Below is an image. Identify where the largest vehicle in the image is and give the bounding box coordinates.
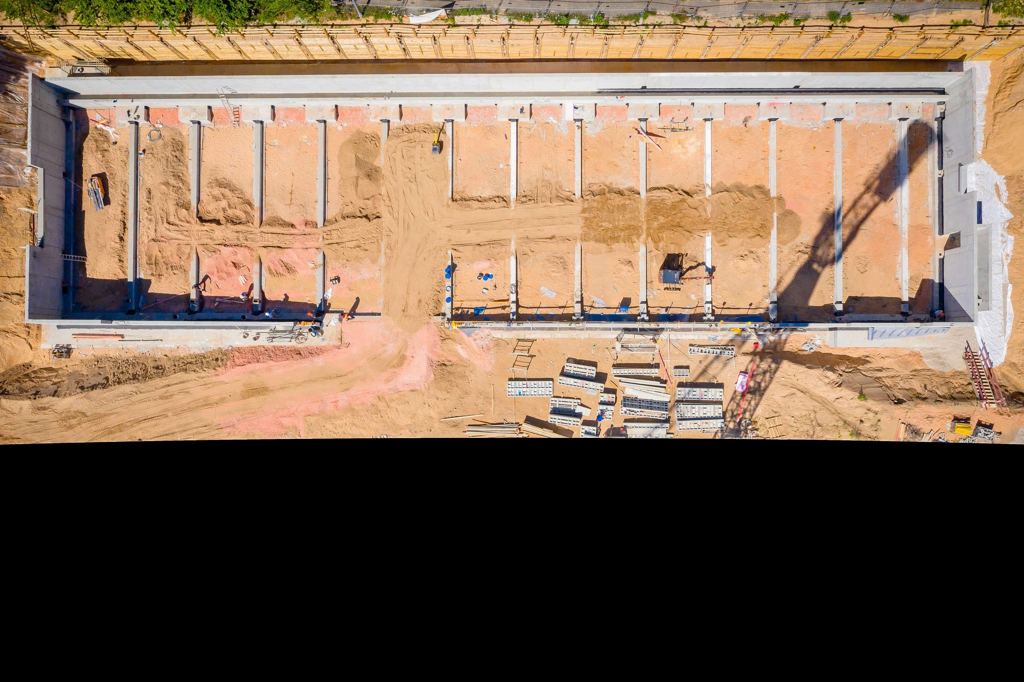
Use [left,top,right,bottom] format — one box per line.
[655,267,713,293]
